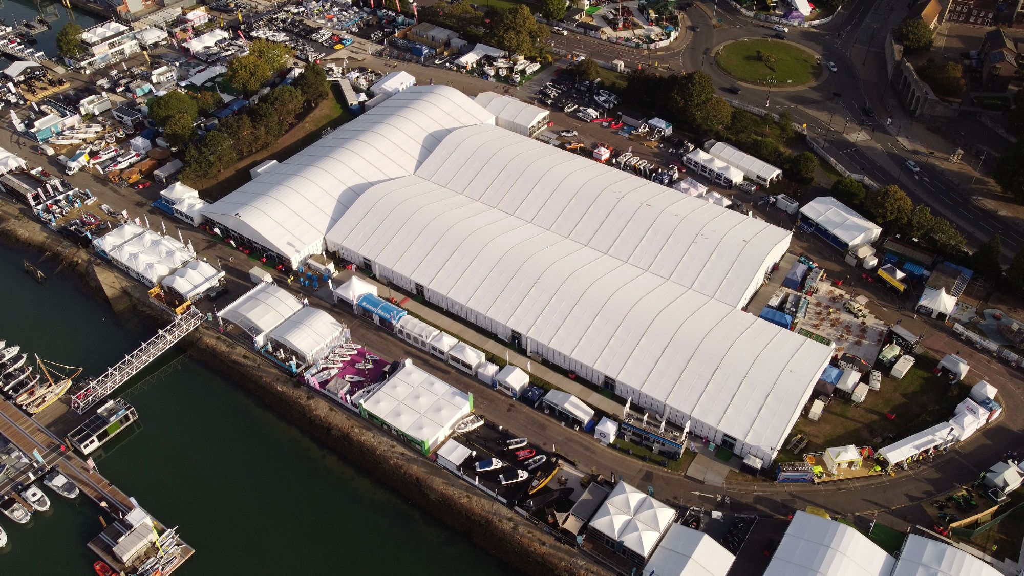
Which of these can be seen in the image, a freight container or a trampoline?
freight container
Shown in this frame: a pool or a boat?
boat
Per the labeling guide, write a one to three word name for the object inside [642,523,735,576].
tent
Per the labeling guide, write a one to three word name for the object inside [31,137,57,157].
vehicle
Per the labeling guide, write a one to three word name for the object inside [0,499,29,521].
boat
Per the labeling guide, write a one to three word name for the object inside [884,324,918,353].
building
